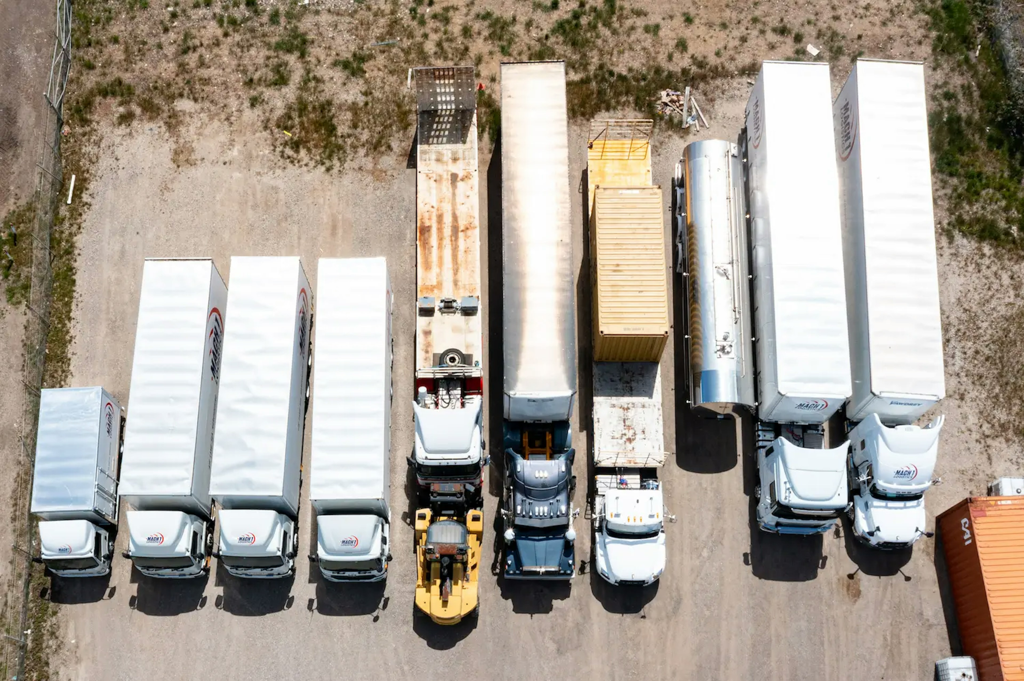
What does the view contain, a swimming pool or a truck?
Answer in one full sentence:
The image shows a truck.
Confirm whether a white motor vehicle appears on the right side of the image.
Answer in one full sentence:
Yes, there is a white motor vehicle on the right side of the image.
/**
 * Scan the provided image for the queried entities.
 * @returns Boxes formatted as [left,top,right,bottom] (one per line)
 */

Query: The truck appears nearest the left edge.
[31,384,125,574]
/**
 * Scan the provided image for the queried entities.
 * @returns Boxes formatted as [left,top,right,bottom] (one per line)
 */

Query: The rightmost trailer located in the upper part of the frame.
[832,54,945,425]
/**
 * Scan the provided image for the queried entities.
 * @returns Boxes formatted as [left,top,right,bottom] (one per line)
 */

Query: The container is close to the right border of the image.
[938,496,1024,681]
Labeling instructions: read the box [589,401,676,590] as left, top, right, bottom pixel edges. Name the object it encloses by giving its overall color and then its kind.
white truck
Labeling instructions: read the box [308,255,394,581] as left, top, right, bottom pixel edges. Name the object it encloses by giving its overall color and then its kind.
white truck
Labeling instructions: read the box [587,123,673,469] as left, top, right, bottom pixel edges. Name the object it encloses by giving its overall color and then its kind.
white trailer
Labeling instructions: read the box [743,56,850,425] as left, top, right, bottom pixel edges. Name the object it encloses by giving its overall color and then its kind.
white trailer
